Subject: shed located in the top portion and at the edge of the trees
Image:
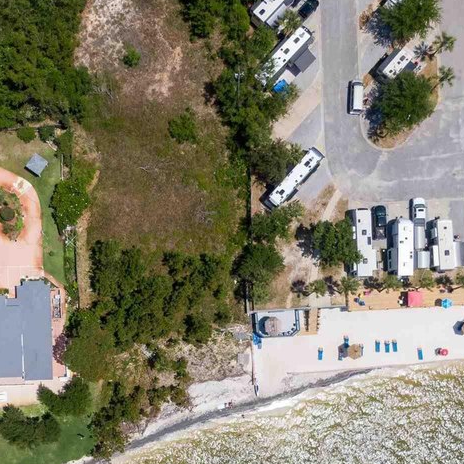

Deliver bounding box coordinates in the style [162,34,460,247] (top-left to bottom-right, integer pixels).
[23,151,46,176]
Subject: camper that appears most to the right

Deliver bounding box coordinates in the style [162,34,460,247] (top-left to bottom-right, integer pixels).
[426,216,463,274]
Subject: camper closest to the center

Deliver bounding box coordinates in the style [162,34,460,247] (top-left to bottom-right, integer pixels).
[262,149,325,213]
